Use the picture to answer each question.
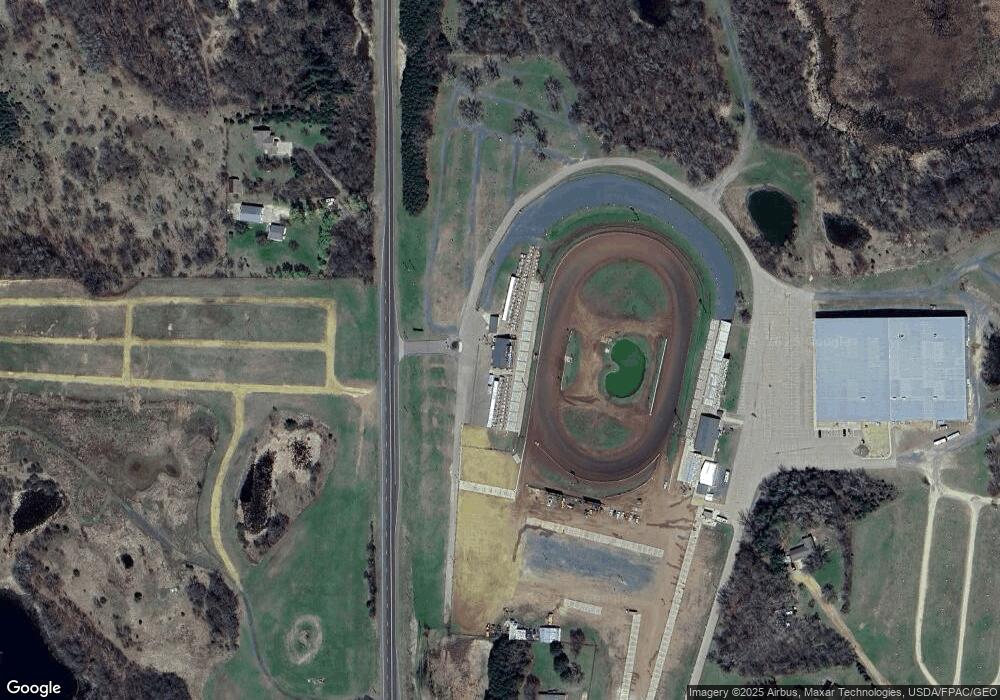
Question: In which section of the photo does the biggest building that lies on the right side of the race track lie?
right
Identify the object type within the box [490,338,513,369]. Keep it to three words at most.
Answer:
building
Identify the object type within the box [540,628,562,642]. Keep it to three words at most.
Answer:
shed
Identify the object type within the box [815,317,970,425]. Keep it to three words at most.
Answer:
building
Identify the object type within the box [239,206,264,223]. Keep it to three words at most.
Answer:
barn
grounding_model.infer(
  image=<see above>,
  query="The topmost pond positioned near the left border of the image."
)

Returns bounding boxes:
[14,475,62,527]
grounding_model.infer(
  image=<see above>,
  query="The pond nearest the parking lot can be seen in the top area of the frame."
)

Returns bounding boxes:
[748,190,797,244]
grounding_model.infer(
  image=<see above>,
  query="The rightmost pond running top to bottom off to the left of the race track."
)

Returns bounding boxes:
[239,451,275,534]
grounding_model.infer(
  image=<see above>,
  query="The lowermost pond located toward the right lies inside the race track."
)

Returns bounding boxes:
[606,340,646,397]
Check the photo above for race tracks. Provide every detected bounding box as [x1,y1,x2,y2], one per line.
[515,227,703,494]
